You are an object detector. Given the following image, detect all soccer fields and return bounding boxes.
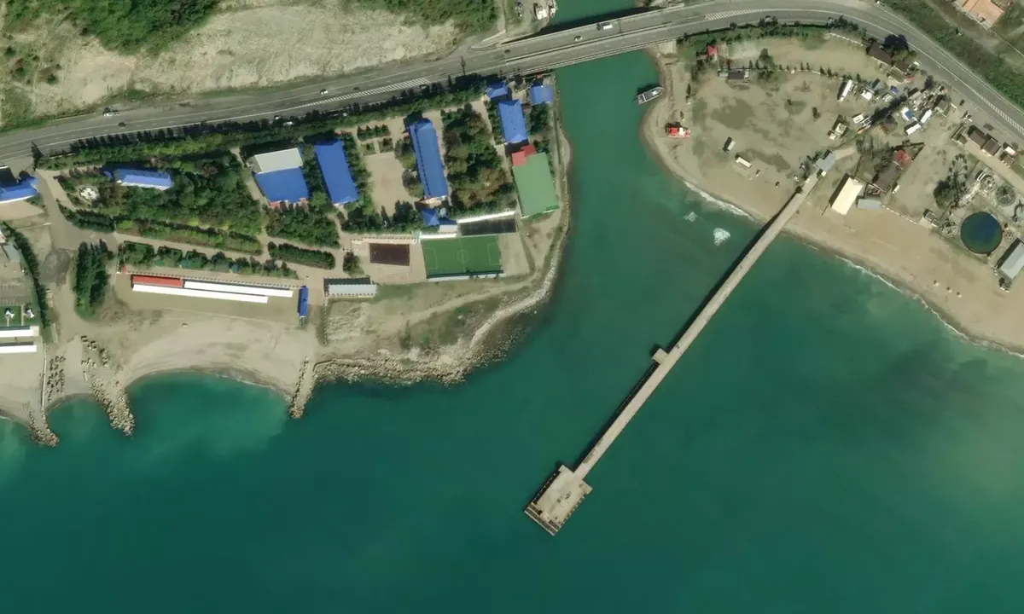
[421,235,503,277]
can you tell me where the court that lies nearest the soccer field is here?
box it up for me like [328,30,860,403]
[459,217,518,236]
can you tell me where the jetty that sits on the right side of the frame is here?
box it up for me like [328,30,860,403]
[524,161,824,536]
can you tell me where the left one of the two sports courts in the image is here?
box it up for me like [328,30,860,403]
[370,243,410,265]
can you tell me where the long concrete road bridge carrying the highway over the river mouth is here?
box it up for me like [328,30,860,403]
[500,4,681,74]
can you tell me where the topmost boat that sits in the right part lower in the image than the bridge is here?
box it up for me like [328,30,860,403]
[638,88,661,103]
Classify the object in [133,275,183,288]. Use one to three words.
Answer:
shed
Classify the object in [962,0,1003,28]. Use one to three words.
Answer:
house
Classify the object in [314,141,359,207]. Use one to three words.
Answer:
building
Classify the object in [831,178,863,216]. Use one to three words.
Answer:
building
